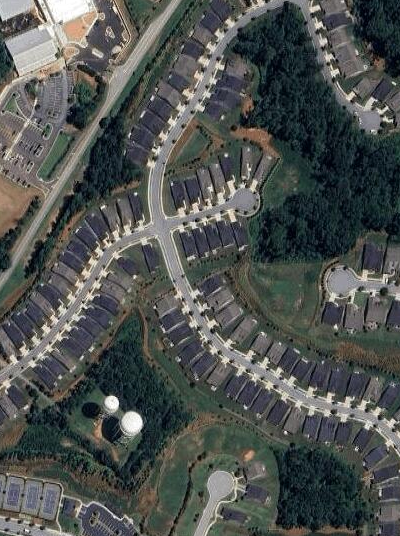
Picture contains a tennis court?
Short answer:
Yes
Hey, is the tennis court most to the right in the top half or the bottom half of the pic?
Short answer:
bottom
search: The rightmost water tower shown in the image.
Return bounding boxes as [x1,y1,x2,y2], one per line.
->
[117,411,144,440]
